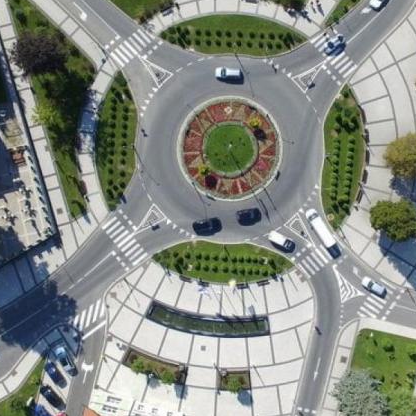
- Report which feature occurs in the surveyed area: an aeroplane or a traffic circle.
traffic circle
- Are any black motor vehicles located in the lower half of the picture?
Yes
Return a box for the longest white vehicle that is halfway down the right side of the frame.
[303,208,338,249]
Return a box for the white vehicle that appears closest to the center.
[268,230,296,250]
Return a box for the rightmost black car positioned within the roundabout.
[236,208,263,223]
